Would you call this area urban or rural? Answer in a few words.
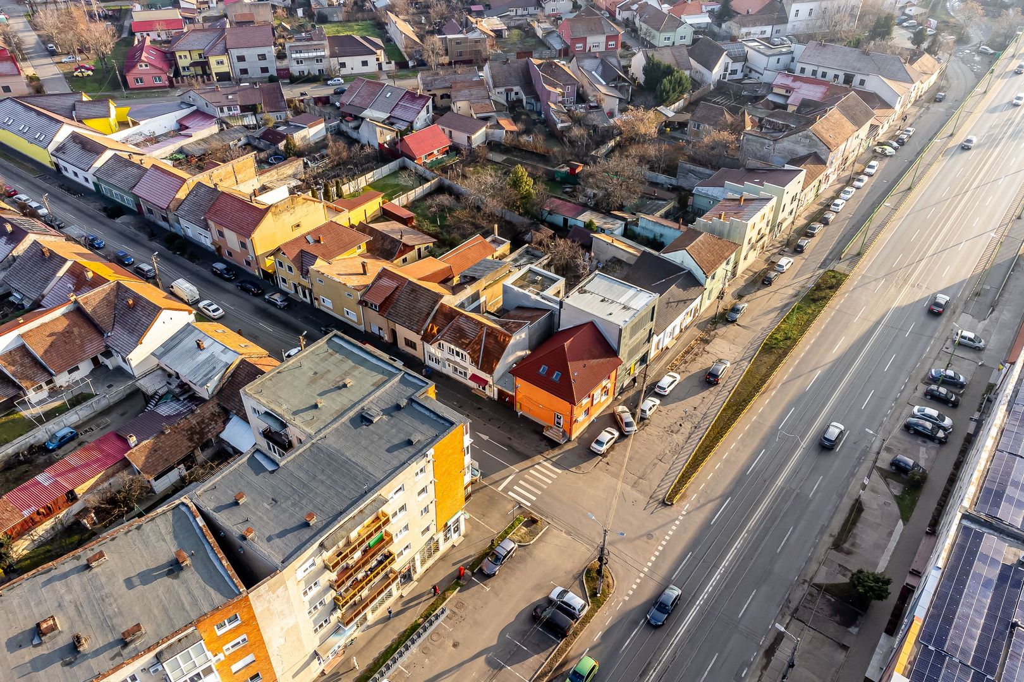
urban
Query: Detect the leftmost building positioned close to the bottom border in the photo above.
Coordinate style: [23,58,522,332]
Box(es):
[0,499,275,682]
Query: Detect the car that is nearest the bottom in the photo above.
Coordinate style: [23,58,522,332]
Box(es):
[562,649,600,682]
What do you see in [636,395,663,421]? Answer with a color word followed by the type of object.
white car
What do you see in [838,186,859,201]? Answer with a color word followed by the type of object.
white car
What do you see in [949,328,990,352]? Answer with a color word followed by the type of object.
gray car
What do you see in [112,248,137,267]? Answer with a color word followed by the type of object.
blue car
